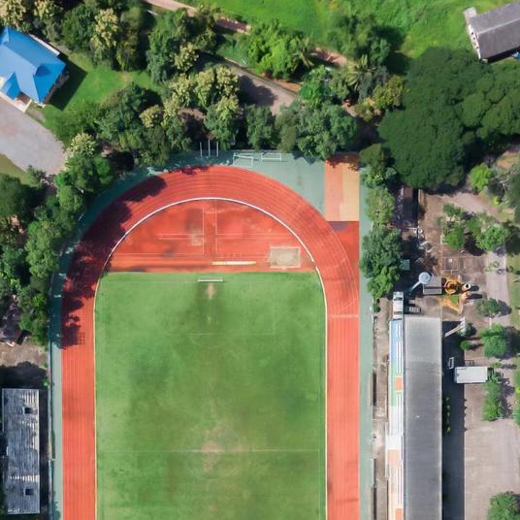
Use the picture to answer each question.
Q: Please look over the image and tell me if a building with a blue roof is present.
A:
Yes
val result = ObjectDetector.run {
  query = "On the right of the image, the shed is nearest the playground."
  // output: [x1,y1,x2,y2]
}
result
[423,277,442,296]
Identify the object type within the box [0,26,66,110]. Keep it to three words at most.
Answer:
house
